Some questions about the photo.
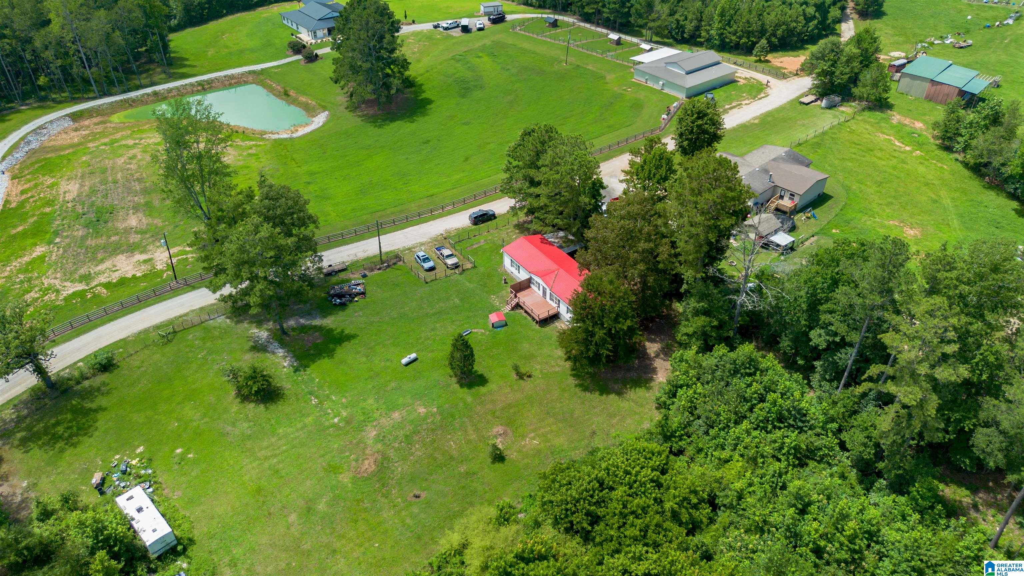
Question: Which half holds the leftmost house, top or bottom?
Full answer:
It is in the top half that the leftmost house appears.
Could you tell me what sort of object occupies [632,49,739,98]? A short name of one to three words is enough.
barn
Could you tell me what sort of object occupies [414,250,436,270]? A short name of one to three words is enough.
car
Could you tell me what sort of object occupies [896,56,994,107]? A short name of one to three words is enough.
barn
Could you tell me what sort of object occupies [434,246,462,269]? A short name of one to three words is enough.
truck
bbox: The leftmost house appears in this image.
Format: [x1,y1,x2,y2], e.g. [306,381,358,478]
[279,0,366,39]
